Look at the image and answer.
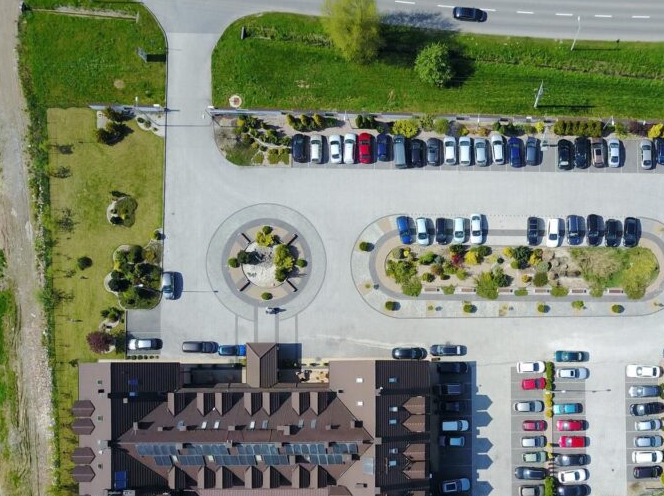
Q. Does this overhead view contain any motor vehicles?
Yes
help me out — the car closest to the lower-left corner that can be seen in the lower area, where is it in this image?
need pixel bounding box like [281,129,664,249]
[131,337,163,351]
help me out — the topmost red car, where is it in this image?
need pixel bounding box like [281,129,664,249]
[358,133,373,165]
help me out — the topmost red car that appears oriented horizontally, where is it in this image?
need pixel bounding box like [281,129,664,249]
[520,377,547,390]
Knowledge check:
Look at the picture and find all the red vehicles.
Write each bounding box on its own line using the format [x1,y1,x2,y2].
[358,133,373,165]
[522,419,547,432]
[559,435,586,448]
[520,377,547,390]
[557,419,585,432]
